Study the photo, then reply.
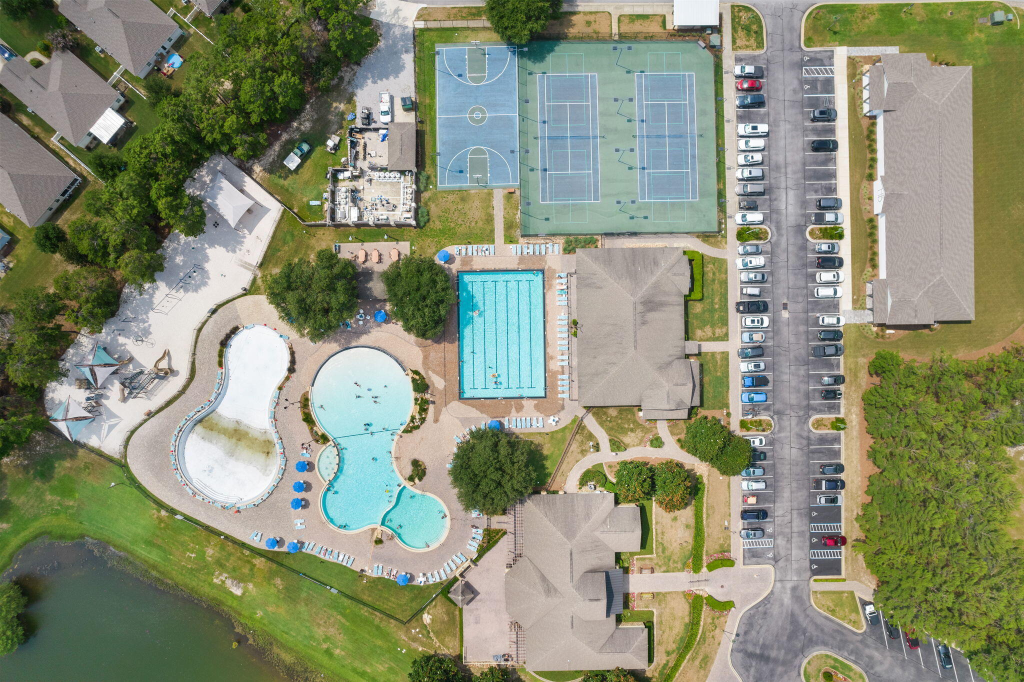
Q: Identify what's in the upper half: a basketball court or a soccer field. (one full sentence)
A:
There is a basketball court in the upper half.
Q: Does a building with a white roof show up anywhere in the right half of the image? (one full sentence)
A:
Yes, a building with a white roof is visible in the right half of the image.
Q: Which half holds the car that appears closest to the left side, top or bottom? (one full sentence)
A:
The car that appears closest to the left side sits in the top half of the picture.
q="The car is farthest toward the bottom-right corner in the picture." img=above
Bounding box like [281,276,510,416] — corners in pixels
[934,641,953,670]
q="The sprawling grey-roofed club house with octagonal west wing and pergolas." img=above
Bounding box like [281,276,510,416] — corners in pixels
[505,493,648,671]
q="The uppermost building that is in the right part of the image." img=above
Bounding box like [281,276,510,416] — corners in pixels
[671,0,719,33]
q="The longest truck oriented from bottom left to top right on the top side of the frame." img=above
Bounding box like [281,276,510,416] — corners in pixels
[283,141,311,171]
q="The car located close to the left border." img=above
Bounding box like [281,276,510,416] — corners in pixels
[0,41,21,62]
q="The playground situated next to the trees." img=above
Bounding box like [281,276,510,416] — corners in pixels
[44,154,282,457]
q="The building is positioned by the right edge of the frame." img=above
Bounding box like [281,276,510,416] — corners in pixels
[861,52,975,324]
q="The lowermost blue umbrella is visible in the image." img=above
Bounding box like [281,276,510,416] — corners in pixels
[396,571,410,585]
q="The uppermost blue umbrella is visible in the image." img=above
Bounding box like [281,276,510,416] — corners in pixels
[437,250,450,263]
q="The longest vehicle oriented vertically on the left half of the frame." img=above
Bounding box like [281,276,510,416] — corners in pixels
[379,91,391,124]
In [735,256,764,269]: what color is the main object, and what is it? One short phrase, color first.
white vehicle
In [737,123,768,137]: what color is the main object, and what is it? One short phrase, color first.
white car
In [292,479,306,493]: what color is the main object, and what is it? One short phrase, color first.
blue umbrella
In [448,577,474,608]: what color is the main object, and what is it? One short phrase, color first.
gray gazebo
